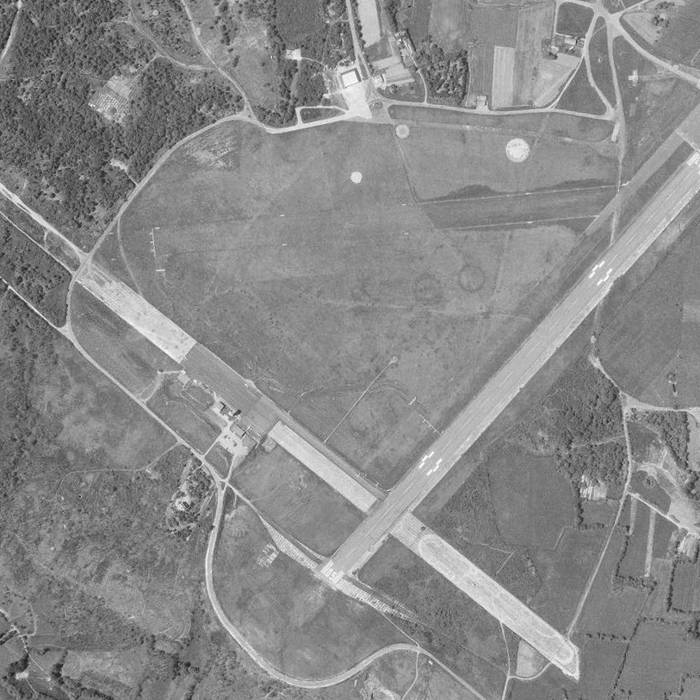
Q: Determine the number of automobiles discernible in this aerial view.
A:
0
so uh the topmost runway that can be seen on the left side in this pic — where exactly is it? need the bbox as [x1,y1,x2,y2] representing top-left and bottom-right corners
[77,262,196,363]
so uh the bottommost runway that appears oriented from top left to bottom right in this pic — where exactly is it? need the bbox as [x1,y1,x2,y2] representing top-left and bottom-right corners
[389,512,580,680]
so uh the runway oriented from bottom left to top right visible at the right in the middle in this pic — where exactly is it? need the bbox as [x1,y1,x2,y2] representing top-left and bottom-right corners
[322,151,700,583]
